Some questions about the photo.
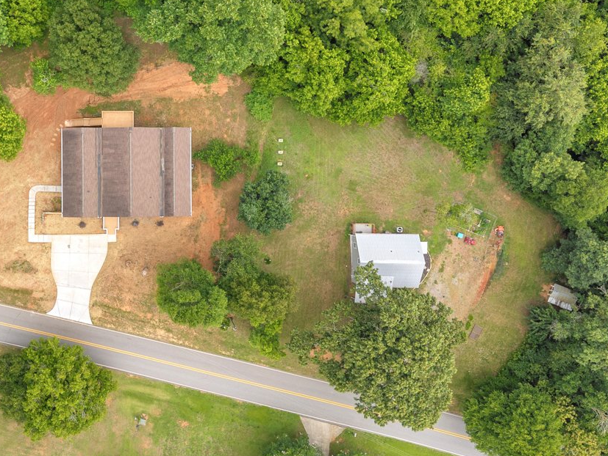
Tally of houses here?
2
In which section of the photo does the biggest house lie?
left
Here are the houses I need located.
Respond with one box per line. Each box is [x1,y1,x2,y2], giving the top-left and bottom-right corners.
[351,223,428,303]
[61,127,193,234]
